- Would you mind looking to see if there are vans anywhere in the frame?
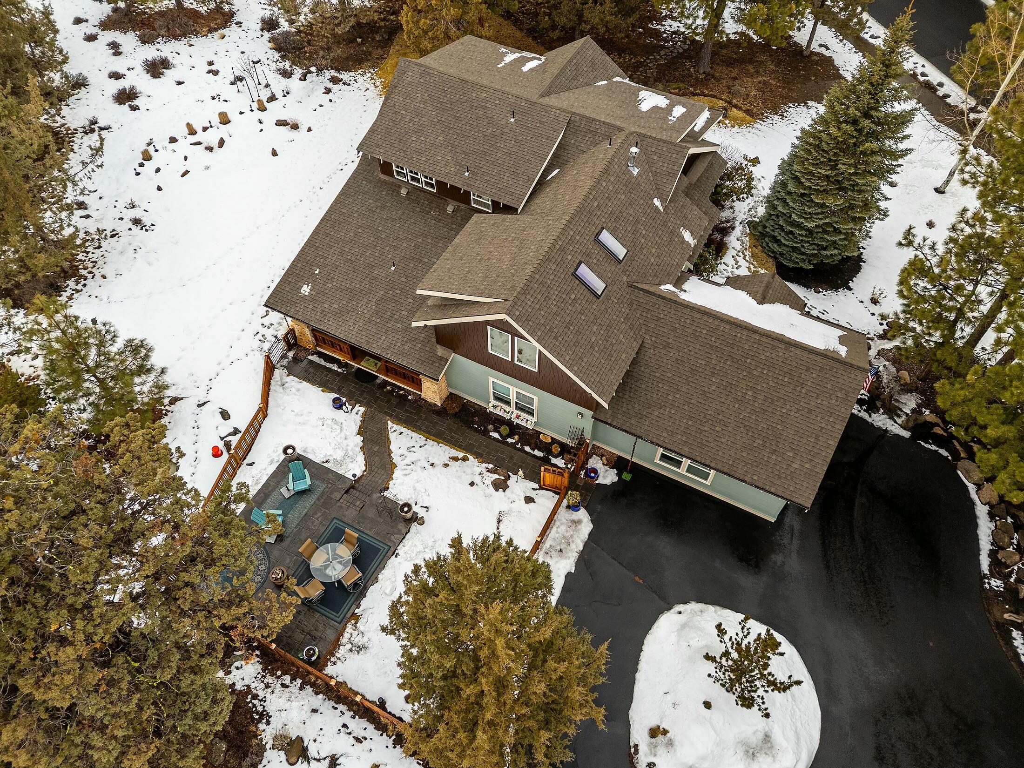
No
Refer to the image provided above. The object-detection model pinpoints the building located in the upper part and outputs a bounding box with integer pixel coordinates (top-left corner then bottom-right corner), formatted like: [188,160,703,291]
[263,34,869,522]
